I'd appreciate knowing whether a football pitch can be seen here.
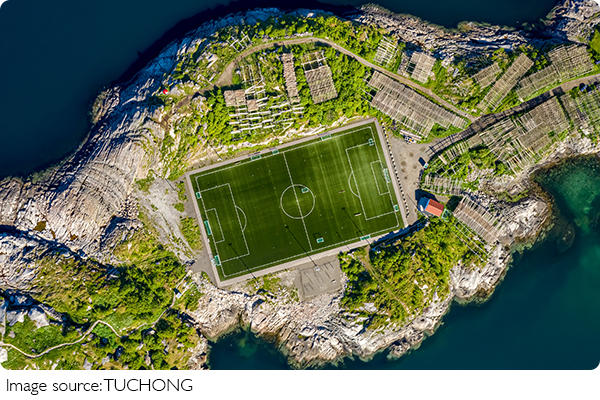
Yes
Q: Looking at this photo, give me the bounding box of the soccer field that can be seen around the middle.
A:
[183,114,412,288]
